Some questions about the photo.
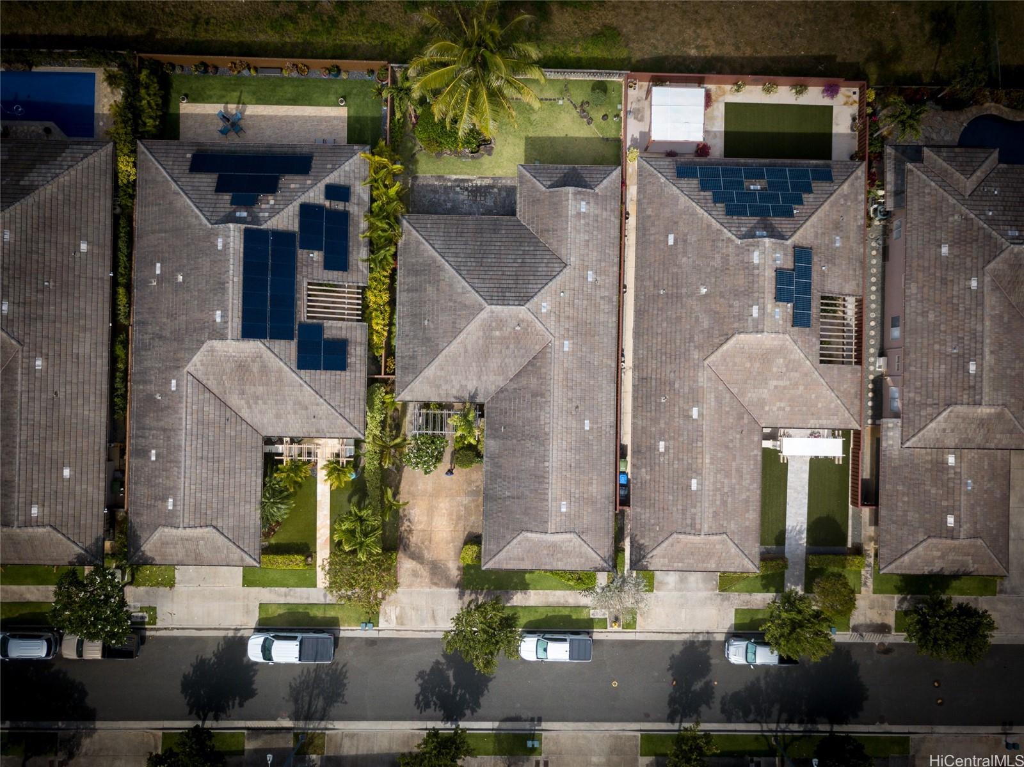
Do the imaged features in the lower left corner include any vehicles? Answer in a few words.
Yes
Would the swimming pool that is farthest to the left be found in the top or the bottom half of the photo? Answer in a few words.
top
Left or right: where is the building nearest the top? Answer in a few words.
right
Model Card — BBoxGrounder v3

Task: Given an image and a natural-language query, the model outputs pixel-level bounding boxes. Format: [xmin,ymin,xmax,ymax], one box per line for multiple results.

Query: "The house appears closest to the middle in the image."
[395,163,623,572]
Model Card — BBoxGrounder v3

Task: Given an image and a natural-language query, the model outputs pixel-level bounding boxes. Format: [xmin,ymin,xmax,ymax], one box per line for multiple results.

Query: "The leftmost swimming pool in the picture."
[0,67,99,141]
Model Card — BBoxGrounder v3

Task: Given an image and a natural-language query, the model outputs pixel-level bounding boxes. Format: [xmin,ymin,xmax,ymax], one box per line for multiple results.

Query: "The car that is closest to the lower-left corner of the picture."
[0,627,62,664]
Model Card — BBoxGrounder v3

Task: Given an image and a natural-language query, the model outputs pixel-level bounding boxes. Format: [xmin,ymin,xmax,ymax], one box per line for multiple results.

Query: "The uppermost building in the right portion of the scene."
[644,86,706,153]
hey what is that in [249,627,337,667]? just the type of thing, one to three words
truck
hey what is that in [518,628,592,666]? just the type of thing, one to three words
truck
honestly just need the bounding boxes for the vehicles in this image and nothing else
[0,627,62,664]
[64,629,146,666]
[723,632,800,669]
[249,627,337,667]
[518,628,592,666]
